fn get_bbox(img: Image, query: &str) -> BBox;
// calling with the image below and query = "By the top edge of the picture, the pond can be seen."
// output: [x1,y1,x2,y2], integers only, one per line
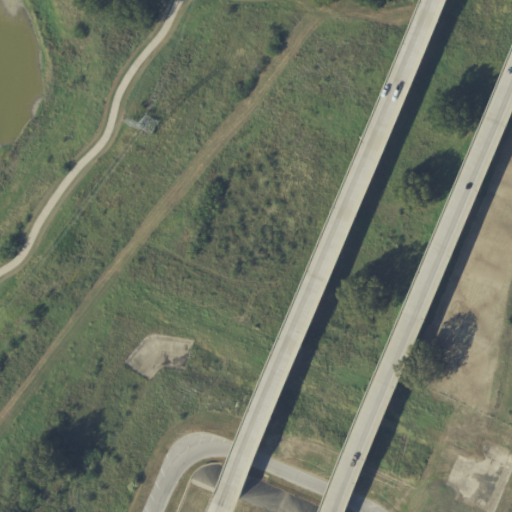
[0,0,45,146]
